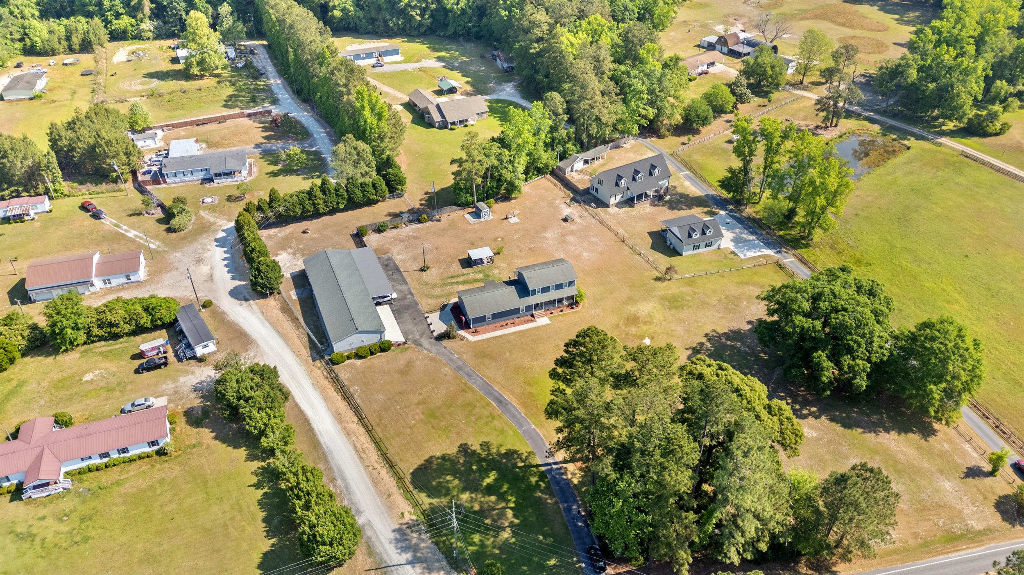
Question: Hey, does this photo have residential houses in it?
Yes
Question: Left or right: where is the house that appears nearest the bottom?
left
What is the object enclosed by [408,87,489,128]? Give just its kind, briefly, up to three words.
house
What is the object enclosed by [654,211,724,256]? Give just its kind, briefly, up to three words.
building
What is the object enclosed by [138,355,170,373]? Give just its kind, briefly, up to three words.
vehicle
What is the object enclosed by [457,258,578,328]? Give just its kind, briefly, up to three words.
house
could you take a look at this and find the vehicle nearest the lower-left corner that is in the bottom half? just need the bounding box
[124,396,155,415]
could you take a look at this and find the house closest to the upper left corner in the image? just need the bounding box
[1,73,48,100]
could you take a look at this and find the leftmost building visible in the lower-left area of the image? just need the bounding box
[0,406,171,510]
